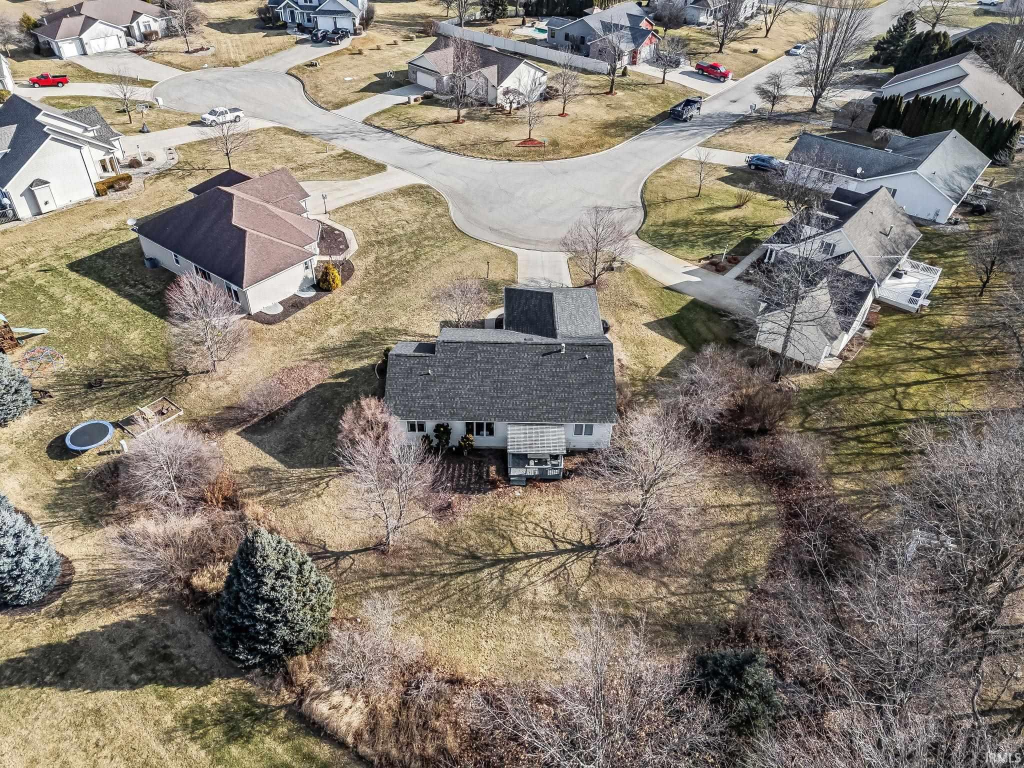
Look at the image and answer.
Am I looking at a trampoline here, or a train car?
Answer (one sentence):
This aerial view contains a trampoline.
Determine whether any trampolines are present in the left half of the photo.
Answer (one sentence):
Yes, a trampoline shows up in the left half of the photo.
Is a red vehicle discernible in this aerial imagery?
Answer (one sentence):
Yes, this view includes a red vehicle.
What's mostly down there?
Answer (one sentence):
The bulk of the photo consists of grass.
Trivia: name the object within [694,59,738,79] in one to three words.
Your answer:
vehicle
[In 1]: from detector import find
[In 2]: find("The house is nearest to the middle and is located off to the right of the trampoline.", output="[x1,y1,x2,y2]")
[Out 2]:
[383,286,617,448]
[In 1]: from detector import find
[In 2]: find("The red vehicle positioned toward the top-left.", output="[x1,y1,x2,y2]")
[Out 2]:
[25,72,70,88]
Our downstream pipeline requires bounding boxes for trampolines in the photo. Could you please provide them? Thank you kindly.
[64,419,121,463]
